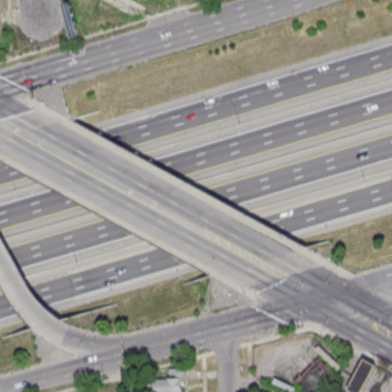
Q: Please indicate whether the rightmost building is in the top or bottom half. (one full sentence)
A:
Seen from above, the rightmost building lies in the bottom half of the view.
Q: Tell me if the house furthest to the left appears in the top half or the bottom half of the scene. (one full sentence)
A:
The bottom half of the photo is where the house furthest to the left is.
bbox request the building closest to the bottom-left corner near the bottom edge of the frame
[153,368,183,392]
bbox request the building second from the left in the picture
[295,356,330,392]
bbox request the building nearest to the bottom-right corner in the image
[345,356,374,392]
